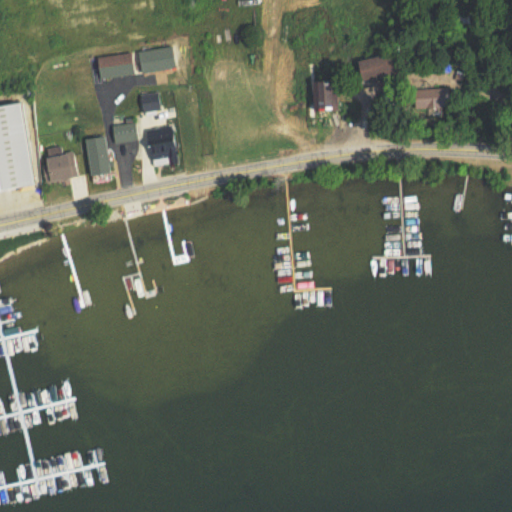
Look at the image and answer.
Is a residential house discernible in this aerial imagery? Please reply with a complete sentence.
Yes, this view includes a residential house.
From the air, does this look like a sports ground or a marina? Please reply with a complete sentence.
The picture captures a marina.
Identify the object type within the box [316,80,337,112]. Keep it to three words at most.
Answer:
house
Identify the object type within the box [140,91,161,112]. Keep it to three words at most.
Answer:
shed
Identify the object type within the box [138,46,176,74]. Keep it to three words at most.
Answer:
building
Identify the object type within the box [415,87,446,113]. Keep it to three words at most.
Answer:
house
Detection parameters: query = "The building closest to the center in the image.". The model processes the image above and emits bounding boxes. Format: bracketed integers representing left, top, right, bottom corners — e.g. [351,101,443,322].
[140,126,179,166]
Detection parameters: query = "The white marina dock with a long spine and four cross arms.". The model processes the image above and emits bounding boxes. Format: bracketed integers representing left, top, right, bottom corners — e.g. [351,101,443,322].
[0,318,106,500]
